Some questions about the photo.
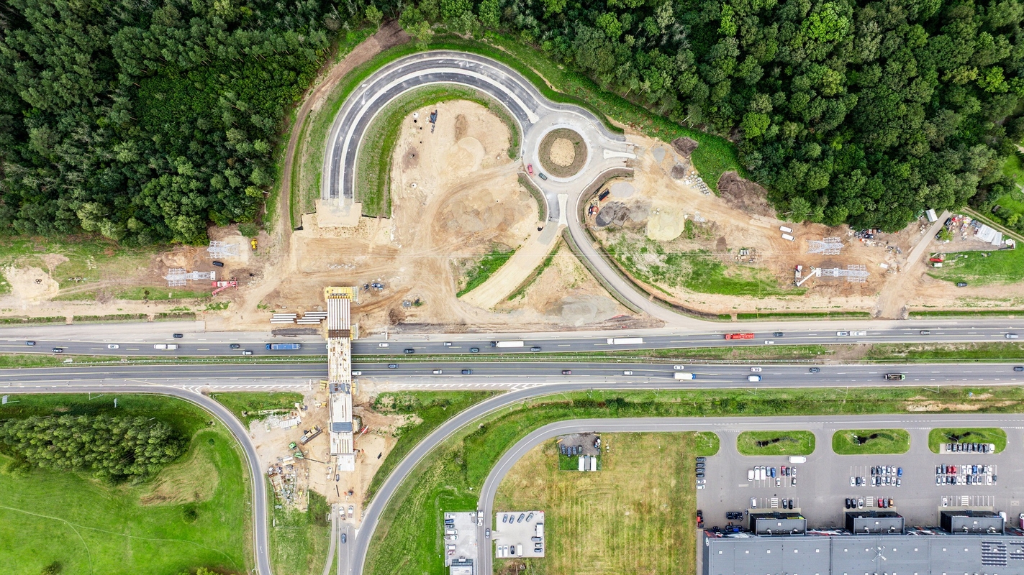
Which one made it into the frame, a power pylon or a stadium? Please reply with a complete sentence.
It is a power pylon that can be seen here.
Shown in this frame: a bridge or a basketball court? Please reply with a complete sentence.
It is a bridge that can be seen here.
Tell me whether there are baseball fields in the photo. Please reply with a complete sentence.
No, the frame has no baseball field in it.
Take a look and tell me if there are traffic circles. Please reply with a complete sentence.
Yes, looking at the shot, I can spot a traffic circle.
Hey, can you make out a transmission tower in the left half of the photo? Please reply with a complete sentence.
Yes, looking in the left half of the photo, one can make out a transmission tower.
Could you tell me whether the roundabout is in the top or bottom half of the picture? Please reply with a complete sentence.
You can find the roundabout in the top half.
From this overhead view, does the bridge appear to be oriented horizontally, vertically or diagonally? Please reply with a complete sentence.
The bridge is laid out vertically.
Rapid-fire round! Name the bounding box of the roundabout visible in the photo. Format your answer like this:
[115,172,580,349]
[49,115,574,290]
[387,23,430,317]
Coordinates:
[513,99,636,224]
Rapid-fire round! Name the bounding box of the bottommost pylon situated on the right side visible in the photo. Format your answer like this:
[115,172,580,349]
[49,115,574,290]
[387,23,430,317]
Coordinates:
[817,265,870,283]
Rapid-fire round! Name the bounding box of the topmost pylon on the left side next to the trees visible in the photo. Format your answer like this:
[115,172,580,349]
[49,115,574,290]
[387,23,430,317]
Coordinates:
[204,239,238,258]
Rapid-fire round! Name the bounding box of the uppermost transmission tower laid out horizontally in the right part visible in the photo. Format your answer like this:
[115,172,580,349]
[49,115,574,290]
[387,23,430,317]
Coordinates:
[806,236,845,255]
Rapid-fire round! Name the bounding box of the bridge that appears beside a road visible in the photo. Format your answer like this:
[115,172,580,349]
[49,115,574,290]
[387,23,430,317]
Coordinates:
[321,286,363,472]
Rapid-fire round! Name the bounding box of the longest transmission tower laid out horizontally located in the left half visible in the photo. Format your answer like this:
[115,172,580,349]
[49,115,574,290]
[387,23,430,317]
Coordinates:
[163,268,215,286]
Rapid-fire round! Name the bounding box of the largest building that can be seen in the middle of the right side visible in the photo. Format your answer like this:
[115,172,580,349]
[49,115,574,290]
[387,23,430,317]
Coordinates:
[968,221,999,246]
